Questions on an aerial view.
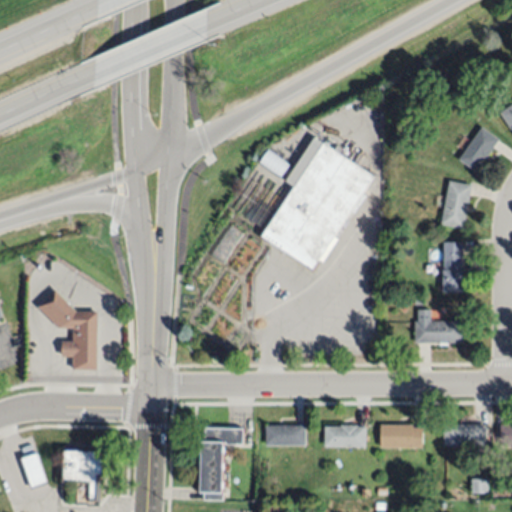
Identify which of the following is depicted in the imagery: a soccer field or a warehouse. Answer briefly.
warehouse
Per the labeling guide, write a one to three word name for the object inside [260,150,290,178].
shed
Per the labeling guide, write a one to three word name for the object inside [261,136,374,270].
warehouse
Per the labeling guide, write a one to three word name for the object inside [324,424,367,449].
house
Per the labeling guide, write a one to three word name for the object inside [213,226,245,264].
greenhouse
